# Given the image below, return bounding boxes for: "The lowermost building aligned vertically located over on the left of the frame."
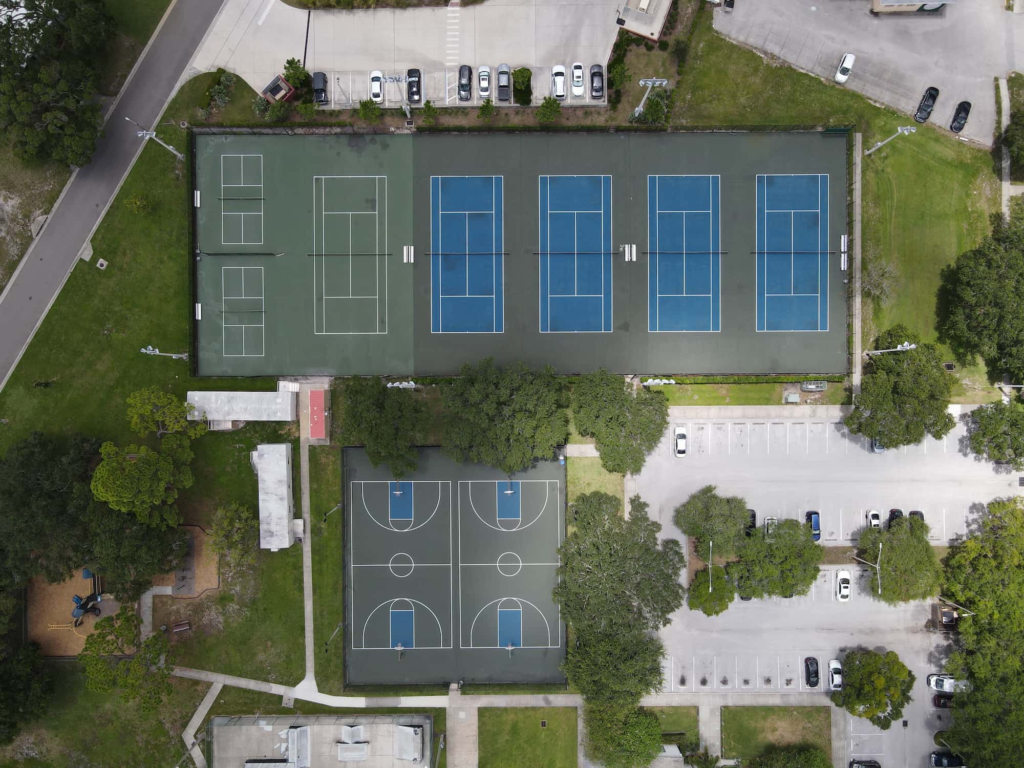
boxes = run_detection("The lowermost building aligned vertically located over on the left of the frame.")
[254,444,305,550]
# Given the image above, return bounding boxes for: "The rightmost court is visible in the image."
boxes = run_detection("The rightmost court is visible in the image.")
[756,174,829,331]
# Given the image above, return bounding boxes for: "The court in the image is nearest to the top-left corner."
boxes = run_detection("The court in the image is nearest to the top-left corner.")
[222,155,263,244]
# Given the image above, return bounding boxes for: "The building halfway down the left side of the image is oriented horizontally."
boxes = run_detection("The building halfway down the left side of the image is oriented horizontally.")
[187,380,306,428]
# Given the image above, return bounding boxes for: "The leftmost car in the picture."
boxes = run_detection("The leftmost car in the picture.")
[313,68,328,105]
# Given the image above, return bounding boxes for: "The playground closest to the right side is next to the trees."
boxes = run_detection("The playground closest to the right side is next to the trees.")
[152,526,219,599]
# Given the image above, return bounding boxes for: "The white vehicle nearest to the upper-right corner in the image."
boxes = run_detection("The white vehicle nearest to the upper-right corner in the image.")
[833,50,857,87]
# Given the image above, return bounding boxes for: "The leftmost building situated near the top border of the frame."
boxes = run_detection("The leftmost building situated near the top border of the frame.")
[619,0,673,43]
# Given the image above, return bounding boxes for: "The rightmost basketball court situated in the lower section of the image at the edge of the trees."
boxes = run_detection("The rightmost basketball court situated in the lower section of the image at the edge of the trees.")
[459,480,560,648]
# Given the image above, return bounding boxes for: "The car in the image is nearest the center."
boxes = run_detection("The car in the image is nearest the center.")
[673,426,688,458]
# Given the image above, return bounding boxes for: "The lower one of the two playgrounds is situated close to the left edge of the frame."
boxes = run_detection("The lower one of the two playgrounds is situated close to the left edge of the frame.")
[29,567,137,657]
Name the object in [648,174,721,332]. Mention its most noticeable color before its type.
blue tennis court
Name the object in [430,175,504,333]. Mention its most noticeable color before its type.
blue tennis court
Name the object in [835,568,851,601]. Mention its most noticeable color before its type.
white car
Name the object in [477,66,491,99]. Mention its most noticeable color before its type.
white car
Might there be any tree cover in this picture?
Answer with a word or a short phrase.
Yes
